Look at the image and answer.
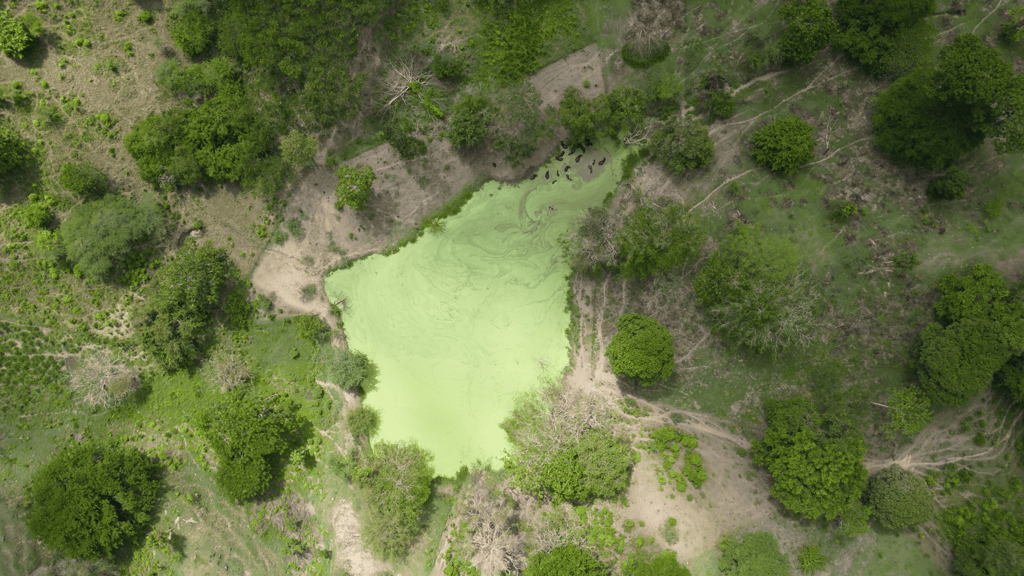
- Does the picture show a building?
No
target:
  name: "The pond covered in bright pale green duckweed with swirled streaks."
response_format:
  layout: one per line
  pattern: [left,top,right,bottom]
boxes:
[325,116,654,479]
